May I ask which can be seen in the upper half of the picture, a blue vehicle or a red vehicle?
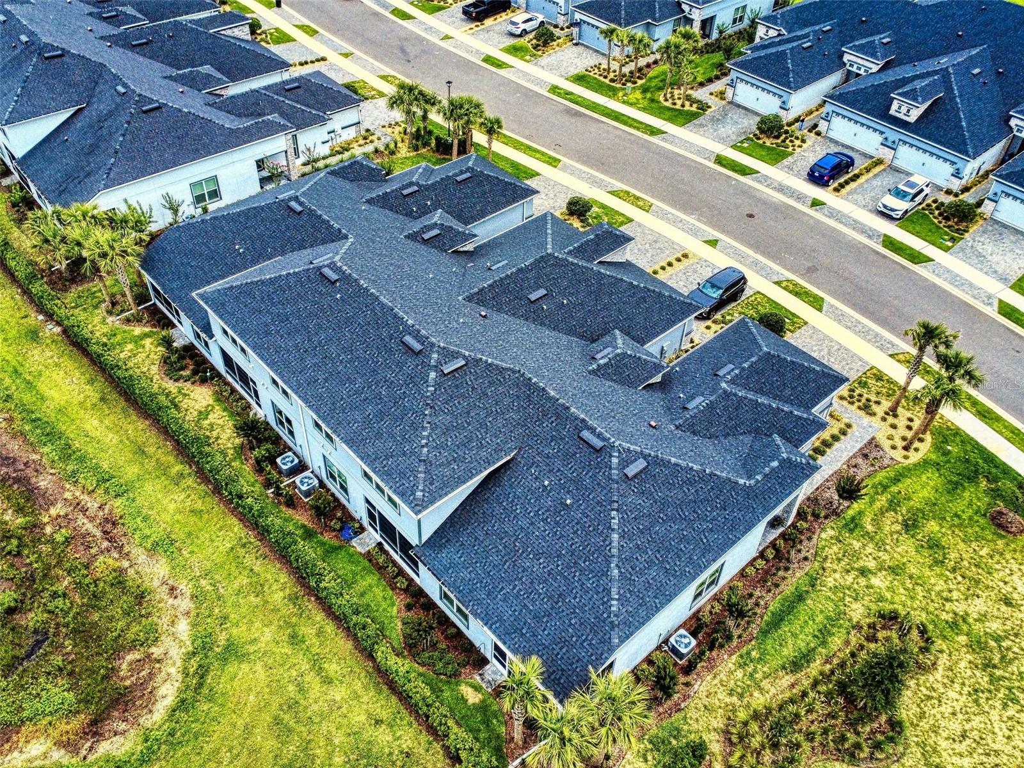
blue vehicle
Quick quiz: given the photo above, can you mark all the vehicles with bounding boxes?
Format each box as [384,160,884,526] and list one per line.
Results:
[506,10,546,34]
[879,171,934,216]
[466,0,516,18]
[689,265,752,319]
[806,149,857,182]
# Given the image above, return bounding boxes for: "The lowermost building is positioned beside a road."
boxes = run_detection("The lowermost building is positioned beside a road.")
[103,154,854,727]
